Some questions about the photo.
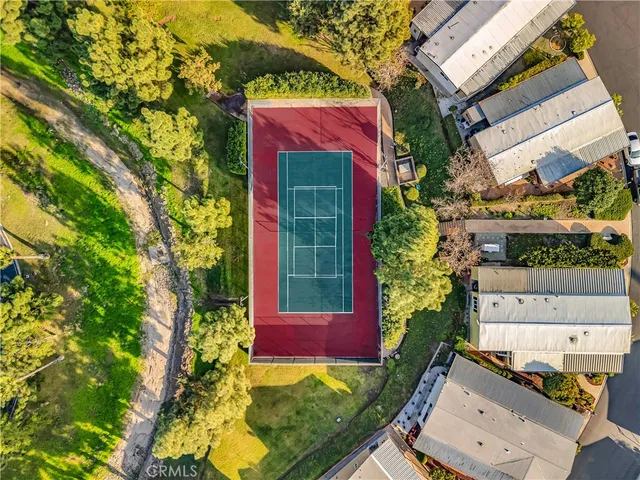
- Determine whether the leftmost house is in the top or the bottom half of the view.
bottom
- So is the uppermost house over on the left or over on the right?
right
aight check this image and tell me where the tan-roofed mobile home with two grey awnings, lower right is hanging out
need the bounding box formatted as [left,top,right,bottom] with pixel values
[410,351,585,480]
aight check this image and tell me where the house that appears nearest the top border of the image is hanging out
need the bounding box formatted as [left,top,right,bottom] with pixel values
[409,0,578,106]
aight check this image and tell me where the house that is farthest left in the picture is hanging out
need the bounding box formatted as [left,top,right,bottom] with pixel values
[346,429,423,480]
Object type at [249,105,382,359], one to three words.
tennis court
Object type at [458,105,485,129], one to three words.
shed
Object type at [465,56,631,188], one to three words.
house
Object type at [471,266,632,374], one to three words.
house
